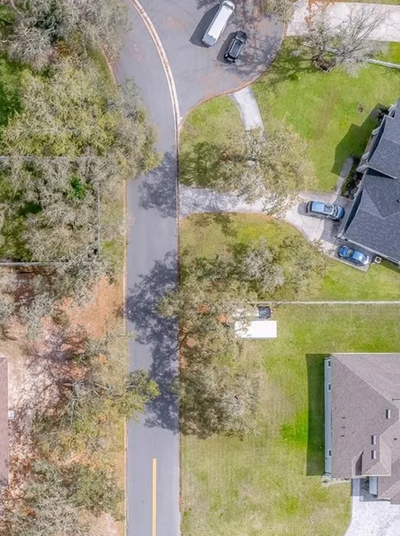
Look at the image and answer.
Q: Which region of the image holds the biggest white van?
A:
top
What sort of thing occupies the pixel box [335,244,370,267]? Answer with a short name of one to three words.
car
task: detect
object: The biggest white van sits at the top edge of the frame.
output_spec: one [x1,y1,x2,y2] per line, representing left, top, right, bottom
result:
[199,5,231,52]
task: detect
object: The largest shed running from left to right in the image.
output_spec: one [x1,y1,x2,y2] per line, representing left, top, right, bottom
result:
[231,321,277,338]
